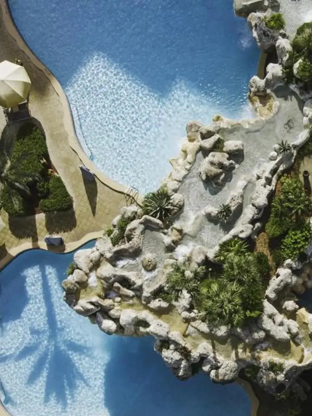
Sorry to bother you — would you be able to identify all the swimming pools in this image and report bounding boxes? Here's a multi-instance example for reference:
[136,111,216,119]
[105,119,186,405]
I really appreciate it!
[0,249,253,416]
[4,0,254,196]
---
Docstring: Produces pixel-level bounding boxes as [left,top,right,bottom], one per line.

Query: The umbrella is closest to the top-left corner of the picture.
[0,61,33,110]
